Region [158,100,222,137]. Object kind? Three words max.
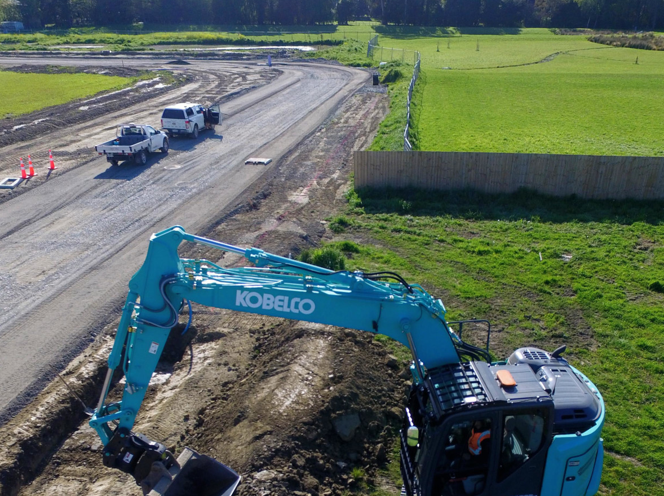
truck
